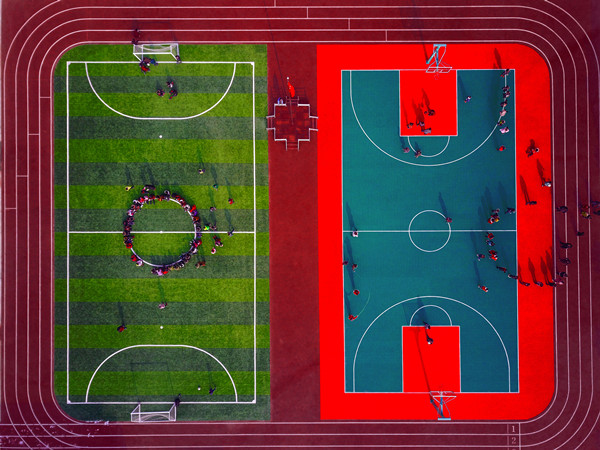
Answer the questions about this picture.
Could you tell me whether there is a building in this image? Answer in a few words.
No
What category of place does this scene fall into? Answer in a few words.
sports ground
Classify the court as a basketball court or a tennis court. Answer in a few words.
basketball court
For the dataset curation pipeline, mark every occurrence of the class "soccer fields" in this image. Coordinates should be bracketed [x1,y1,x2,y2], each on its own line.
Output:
[54,44,271,420]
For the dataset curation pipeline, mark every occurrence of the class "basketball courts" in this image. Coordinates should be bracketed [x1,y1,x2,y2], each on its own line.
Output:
[317,43,555,420]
